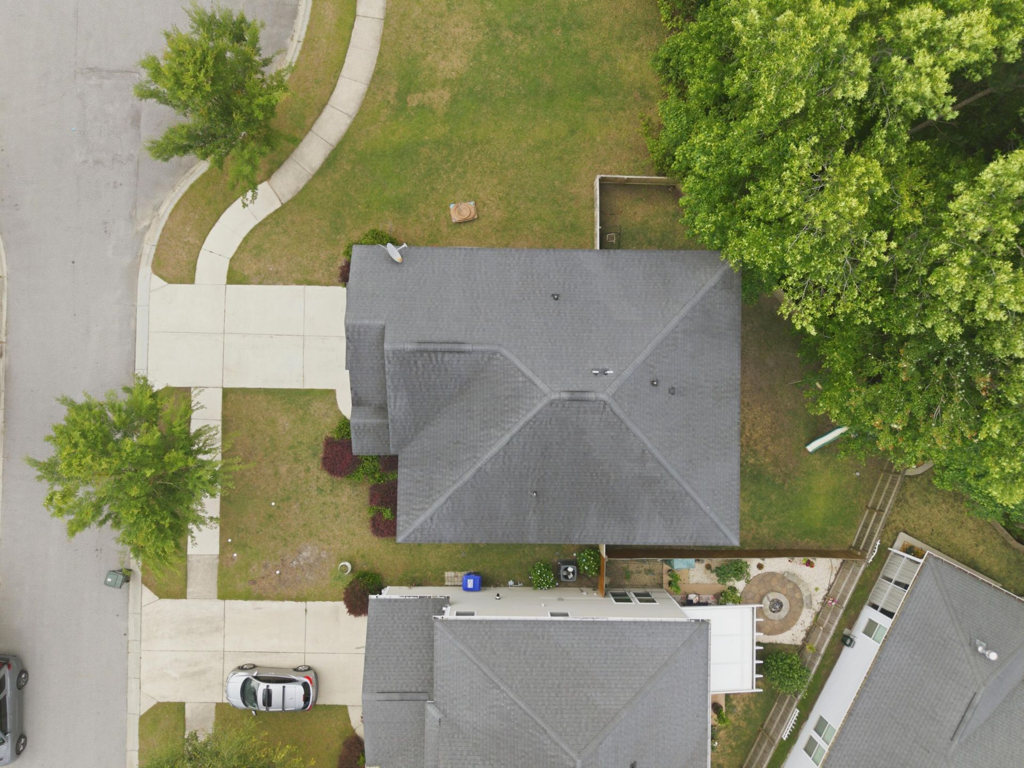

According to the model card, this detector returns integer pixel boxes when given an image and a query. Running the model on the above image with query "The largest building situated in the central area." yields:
[345,245,741,546]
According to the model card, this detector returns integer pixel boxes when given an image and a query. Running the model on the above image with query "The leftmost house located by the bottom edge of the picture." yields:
[362,583,713,768]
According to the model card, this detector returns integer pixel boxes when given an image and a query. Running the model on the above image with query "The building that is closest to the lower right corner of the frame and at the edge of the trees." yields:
[789,549,1024,768]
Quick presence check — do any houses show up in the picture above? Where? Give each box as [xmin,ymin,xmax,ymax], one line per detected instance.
[362,583,713,768]
[789,549,1024,768]
[345,245,741,546]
